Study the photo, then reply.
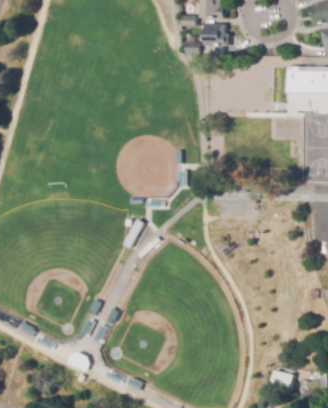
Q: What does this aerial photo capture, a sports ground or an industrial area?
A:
sports ground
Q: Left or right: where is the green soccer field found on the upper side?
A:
left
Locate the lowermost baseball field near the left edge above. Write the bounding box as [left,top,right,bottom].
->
[0,200,128,344]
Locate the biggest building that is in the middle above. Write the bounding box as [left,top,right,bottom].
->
[122,217,145,248]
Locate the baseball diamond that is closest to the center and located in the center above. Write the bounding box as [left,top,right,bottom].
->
[117,134,180,197]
